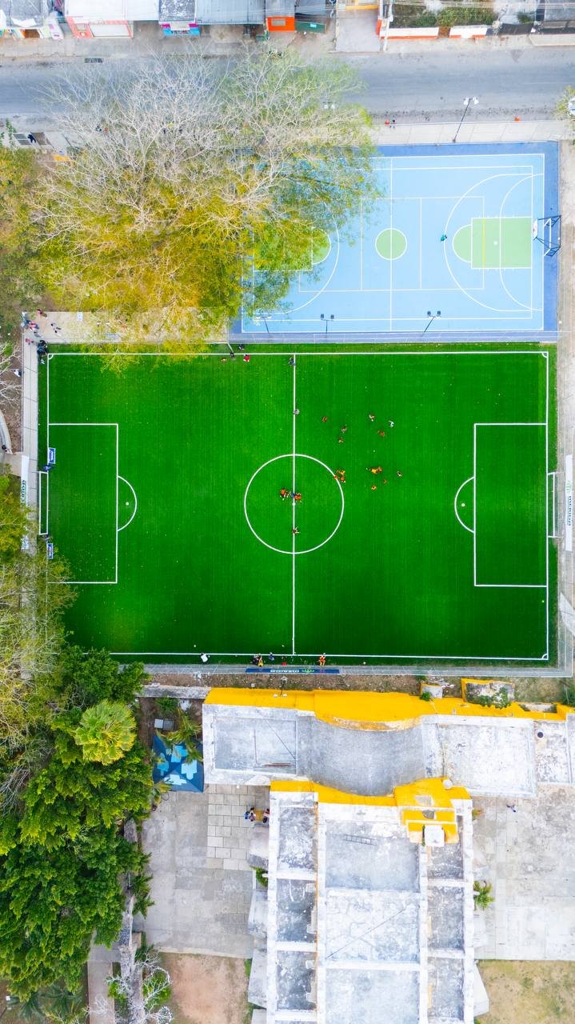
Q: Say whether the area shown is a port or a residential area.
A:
residential area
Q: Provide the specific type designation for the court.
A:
basketball court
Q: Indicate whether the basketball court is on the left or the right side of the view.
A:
right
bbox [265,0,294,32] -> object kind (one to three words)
house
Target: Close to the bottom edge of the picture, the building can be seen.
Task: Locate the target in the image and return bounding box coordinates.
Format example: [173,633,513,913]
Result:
[204,677,575,1024]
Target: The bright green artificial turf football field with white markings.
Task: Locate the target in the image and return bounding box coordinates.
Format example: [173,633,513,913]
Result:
[38,344,557,663]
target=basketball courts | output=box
[232,142,558,343]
